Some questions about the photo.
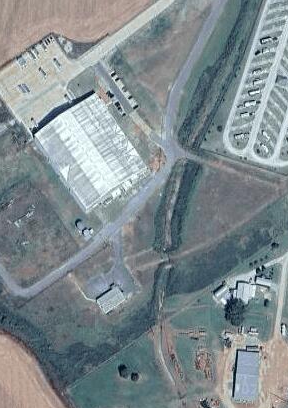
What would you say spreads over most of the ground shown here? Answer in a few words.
grass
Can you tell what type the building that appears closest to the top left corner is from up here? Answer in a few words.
warehouse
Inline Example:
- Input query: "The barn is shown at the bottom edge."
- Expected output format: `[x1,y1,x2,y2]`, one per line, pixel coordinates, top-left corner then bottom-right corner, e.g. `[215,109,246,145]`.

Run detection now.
[233,347,260,404]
